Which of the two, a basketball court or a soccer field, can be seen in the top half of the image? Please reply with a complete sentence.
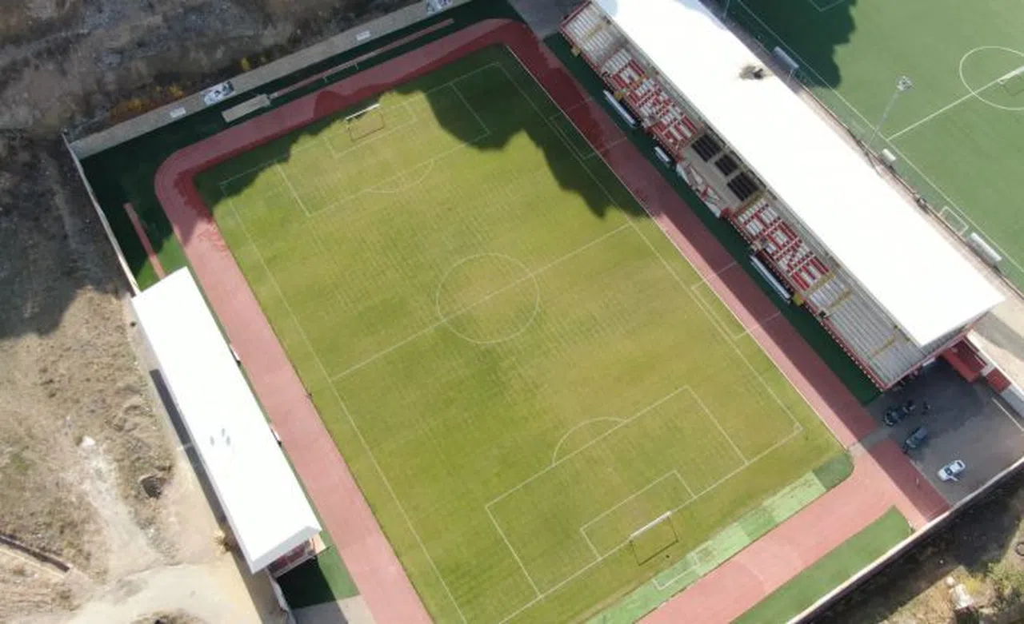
The one visible in the top half of the image is a soccer field.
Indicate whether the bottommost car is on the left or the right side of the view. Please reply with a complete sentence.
You can find the bottommost car on the right side of the picture.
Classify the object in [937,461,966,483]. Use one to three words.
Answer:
car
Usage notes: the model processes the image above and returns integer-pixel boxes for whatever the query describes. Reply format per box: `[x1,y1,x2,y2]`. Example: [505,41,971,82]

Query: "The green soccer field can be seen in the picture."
[712,0,1024,297]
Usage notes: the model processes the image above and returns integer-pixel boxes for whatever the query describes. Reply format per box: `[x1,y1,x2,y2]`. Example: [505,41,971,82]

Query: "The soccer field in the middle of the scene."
[197,42,850,624]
